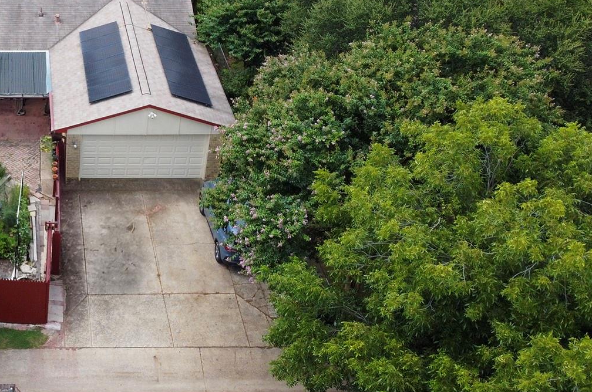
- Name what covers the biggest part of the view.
trees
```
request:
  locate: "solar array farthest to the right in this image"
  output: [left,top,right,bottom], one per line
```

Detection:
[150,23,212,108]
